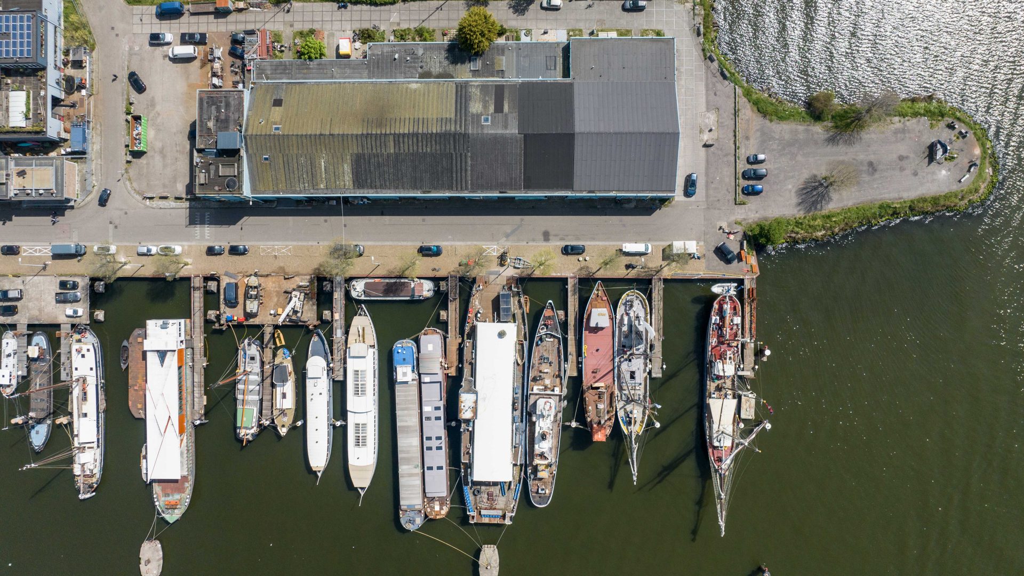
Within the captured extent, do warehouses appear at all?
Yes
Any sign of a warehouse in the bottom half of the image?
No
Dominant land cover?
water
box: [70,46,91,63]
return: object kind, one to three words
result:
shed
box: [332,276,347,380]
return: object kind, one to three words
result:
pier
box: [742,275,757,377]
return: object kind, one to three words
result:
pier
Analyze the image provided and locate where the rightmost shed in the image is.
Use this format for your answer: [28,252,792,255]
[927,139,962,169]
